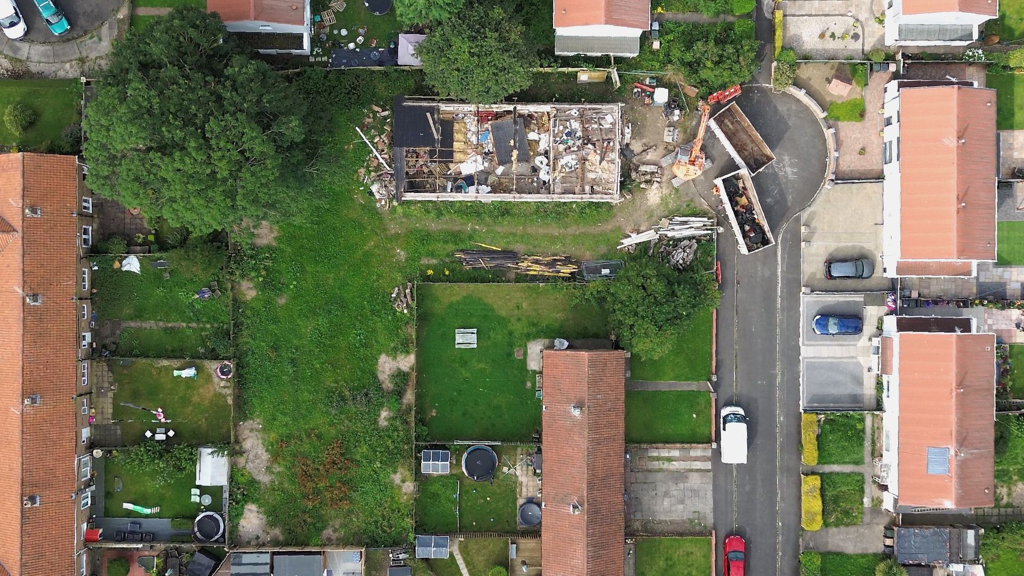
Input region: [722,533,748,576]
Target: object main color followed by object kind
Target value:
red car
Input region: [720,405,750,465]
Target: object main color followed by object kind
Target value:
white van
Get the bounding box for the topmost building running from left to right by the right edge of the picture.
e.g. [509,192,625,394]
[886,0,999,47]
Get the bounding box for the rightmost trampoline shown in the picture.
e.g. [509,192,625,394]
[461,445,497,484]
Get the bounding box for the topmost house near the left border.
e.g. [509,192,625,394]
[0,149,93,256]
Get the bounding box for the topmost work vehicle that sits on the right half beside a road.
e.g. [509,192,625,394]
[656,98,714,186]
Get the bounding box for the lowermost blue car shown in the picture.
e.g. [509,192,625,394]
[811,311,863,337]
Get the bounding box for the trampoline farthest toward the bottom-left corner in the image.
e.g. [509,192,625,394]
[190,513,224,546]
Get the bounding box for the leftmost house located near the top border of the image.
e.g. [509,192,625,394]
[206,0,316,57]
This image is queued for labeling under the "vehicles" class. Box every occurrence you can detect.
[720,405,750,465]
[656,98,714,186]
[823,256,874,281]
[722,533,748,576]
[32,0,70,33]
[0,0,28,40]
[811,311,863,337]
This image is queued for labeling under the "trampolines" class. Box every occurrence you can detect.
[461,445,497,484]
[190,513,224,546]
[365,0,393,17]
[217,362,231,378]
